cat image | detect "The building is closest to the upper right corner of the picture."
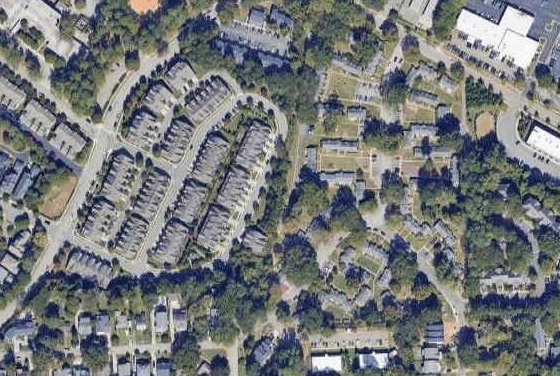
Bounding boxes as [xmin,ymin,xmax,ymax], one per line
[458,6,539,68]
